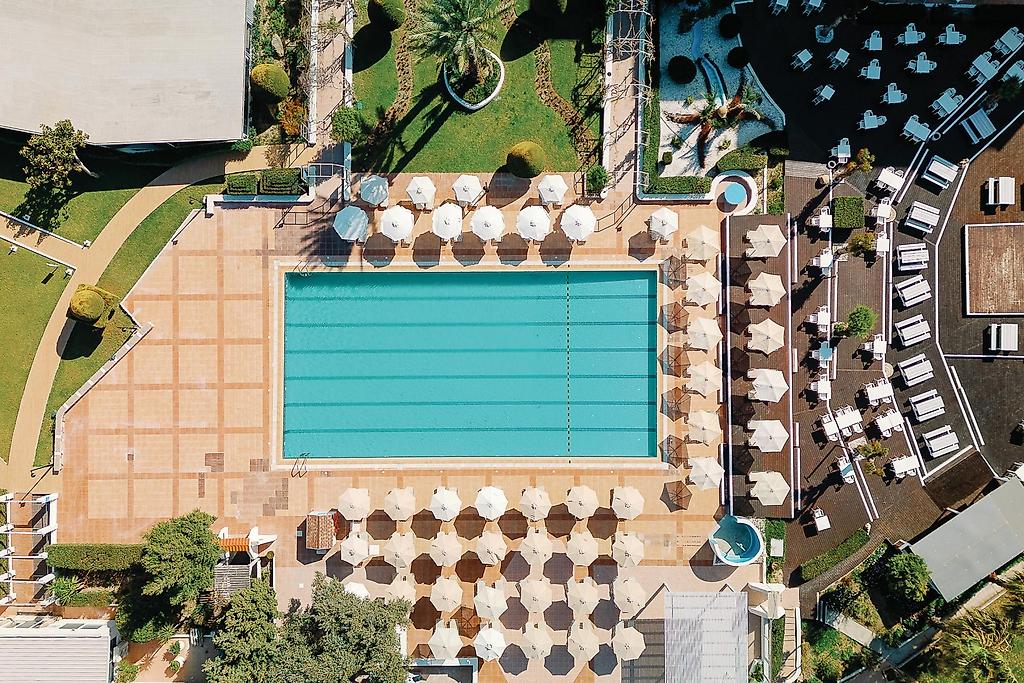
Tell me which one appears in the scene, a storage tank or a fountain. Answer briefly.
fountain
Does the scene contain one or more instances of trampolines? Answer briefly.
No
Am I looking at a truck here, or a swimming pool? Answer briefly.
swimming pool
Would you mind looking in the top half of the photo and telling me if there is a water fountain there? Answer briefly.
Yes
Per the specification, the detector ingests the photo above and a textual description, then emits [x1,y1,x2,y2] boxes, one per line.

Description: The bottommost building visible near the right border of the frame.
[892,463,1024,603]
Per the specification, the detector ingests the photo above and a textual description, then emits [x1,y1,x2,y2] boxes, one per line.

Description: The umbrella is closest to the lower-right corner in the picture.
[749,470,788,506]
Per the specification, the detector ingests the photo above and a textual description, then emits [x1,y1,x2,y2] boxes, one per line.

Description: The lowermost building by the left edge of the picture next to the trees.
[0,615,124,683]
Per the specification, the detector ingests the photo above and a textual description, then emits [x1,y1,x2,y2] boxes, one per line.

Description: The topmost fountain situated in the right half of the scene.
[713,170,761,215]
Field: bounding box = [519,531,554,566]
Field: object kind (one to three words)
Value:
umbrella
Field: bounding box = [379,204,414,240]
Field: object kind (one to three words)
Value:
umbrella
